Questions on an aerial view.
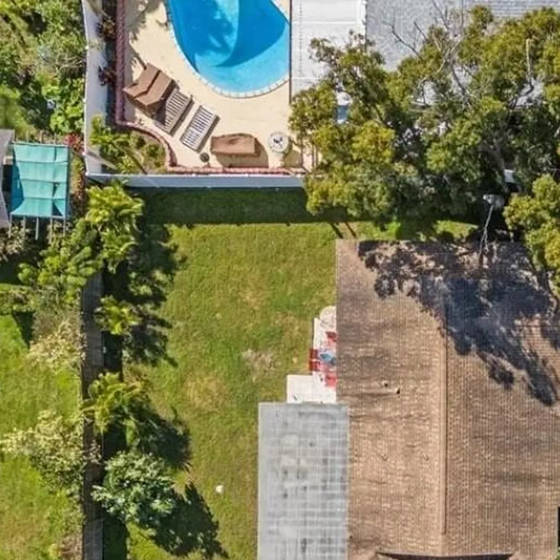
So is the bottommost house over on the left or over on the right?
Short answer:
right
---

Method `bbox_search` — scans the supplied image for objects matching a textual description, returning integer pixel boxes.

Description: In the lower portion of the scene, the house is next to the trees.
[258,234,560,560]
